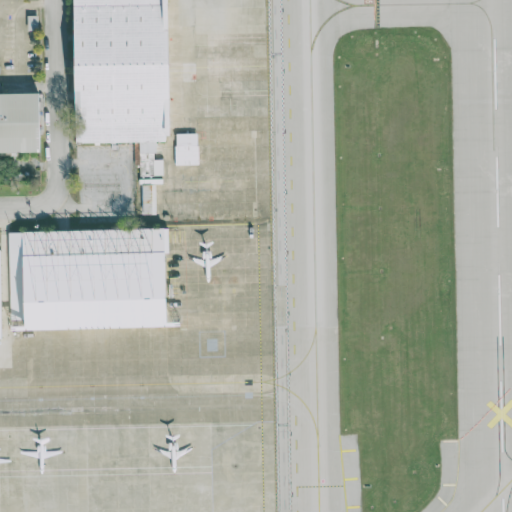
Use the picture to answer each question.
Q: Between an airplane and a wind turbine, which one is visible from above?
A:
airplane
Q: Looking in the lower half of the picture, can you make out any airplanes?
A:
Yes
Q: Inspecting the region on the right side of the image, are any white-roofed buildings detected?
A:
No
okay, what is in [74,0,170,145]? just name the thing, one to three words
hangar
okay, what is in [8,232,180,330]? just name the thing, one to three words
hangar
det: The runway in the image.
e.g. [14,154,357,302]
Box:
[422,0,512,512]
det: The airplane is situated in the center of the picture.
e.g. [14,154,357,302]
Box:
[189,242,226,282]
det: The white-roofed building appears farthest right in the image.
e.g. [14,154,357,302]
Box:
[176,134,200,166]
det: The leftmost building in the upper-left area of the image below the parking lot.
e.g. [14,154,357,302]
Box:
[0,94,42,153]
